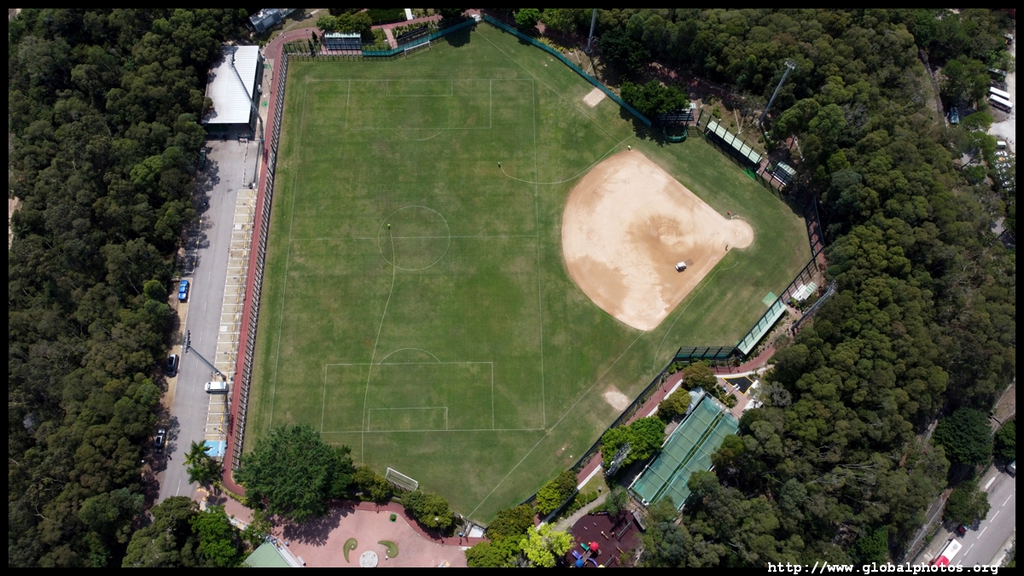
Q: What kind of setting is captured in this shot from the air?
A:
sports ground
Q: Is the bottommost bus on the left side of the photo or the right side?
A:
right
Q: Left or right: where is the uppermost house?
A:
left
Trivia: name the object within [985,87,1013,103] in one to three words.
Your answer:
vehicle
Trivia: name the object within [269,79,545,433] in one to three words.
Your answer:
soccer field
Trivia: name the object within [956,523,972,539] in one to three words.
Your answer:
car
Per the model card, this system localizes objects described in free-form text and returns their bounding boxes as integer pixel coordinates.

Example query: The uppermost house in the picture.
[249,0,303,32]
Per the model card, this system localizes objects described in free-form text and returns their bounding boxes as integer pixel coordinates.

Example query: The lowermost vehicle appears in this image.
[919,539,962,576]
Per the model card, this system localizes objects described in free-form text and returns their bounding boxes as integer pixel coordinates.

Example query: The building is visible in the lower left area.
[241,539,307,576]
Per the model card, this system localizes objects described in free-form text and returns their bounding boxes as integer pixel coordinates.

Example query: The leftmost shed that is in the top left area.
[204,45,263,133]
